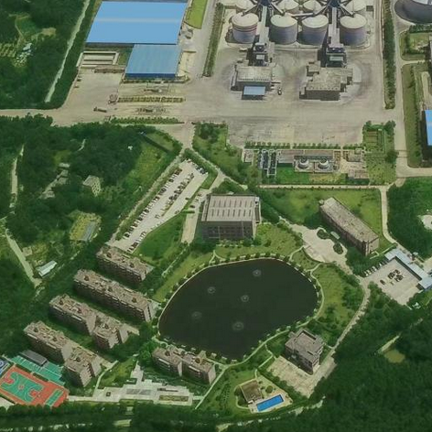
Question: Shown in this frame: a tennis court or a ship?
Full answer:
Visible in the photo is a tennis court.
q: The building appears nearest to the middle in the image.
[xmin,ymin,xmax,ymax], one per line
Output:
[203,194,260,239]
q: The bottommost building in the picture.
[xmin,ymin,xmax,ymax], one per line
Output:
[239,378,264,406]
